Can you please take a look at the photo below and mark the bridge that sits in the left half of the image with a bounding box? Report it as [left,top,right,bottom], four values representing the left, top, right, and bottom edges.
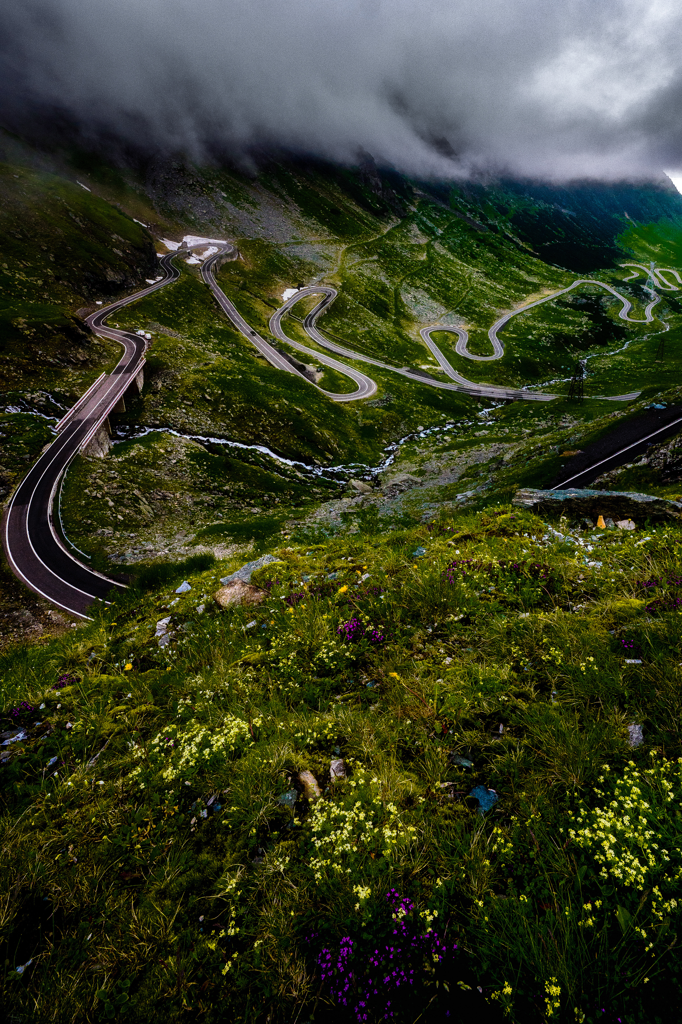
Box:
[30,359,148,449]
